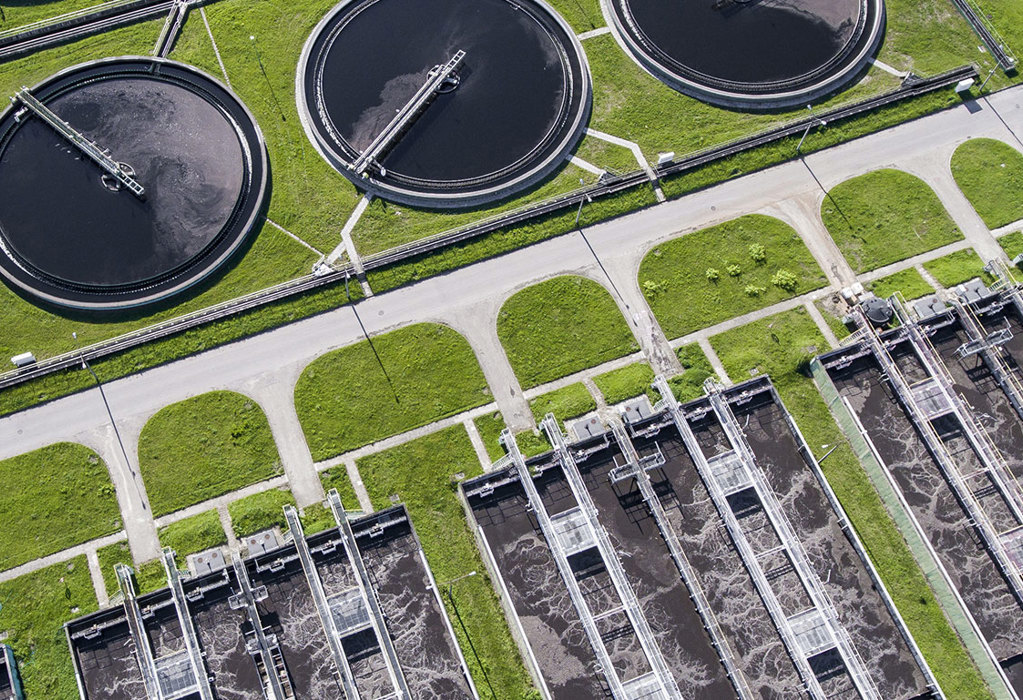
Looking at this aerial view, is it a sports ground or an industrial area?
industrial area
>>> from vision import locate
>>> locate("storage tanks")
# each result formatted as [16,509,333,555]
[861,301,893,331]
[0,56,270,310]
[601,0,884,108]
[297,0,593,208]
